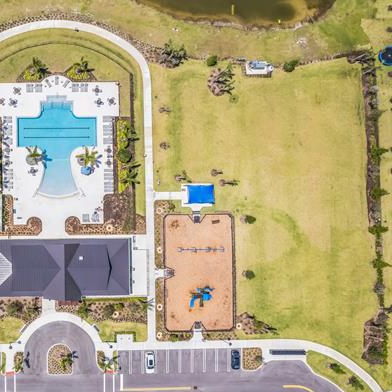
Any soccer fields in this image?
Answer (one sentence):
No, I can see no soccer field in this picture.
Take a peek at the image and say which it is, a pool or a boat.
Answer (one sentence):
Of the two, only a pool appears.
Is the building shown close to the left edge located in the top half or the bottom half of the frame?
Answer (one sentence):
Seen from above, the building shown close to the left edge lies in the bottom half of the view.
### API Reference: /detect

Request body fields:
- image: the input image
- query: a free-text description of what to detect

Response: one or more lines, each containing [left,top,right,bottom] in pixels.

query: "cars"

[144,351,155,372]
[229,348,240,369]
